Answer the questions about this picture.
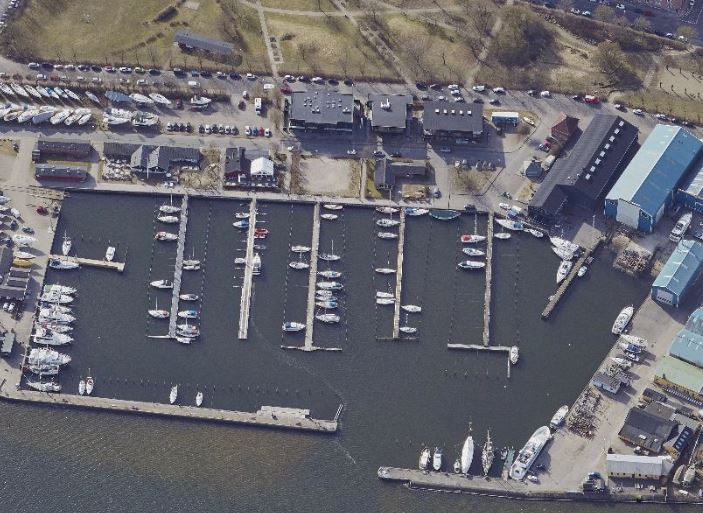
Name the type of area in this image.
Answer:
port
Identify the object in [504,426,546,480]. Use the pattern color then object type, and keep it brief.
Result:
white ship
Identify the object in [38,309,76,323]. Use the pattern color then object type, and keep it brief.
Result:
white boat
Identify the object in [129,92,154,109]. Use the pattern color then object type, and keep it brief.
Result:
white boat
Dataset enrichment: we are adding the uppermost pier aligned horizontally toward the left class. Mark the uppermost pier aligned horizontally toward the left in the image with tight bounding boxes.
[49,254,125,271]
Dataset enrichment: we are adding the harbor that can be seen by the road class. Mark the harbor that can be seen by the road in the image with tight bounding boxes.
[0,186,703,498]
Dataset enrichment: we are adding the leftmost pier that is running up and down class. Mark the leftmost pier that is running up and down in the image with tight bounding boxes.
[169,195,188,337]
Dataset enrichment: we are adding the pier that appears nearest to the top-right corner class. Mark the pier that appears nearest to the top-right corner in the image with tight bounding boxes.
[573,222,602,254]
